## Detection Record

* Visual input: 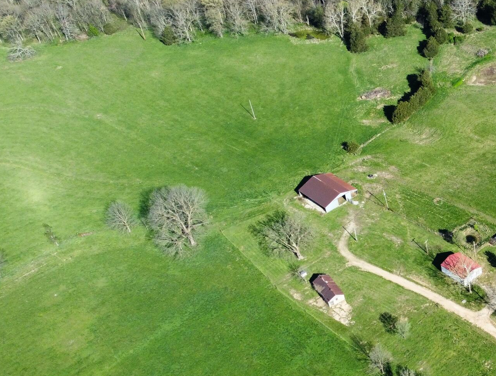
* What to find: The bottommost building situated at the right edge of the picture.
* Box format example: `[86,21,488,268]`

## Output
[437,253,482,287]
